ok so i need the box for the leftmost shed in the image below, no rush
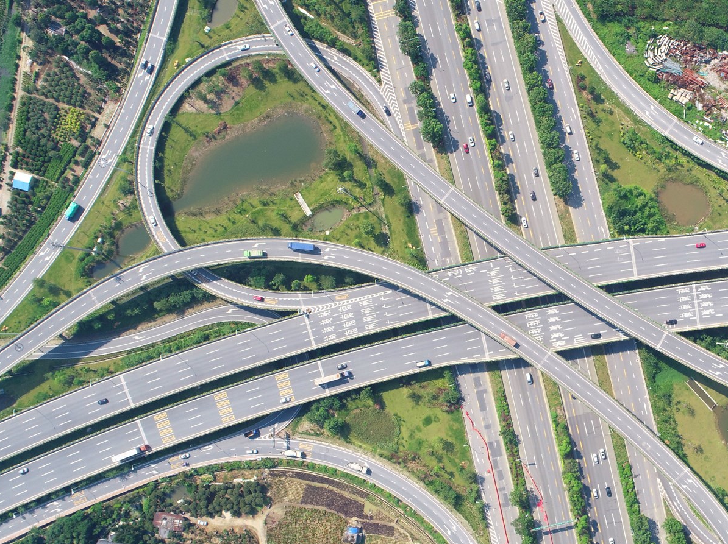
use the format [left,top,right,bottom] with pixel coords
[12,171,37,192]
